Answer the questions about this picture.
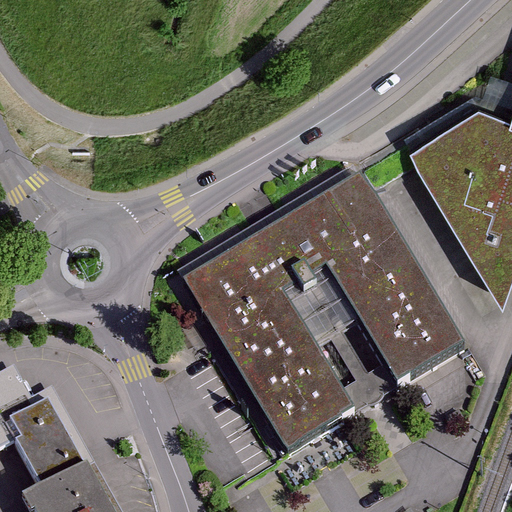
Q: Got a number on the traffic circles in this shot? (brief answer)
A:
1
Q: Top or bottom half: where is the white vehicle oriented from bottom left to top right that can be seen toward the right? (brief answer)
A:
top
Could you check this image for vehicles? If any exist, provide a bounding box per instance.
[419,390,434,410]
[198,172,217,186]
[301,128,321,142]
[461,346,484,378]
[360,490,382,506]
[188,359,210,374]
[376,74,401,94]
[214,398,234,413]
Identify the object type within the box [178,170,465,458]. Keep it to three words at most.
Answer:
building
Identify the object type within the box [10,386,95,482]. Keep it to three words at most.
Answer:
building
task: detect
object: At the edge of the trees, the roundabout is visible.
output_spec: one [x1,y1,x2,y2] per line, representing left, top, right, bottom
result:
[38,218,132,310]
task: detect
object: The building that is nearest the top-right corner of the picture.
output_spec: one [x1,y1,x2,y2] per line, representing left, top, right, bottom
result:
[400,102,512,316]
